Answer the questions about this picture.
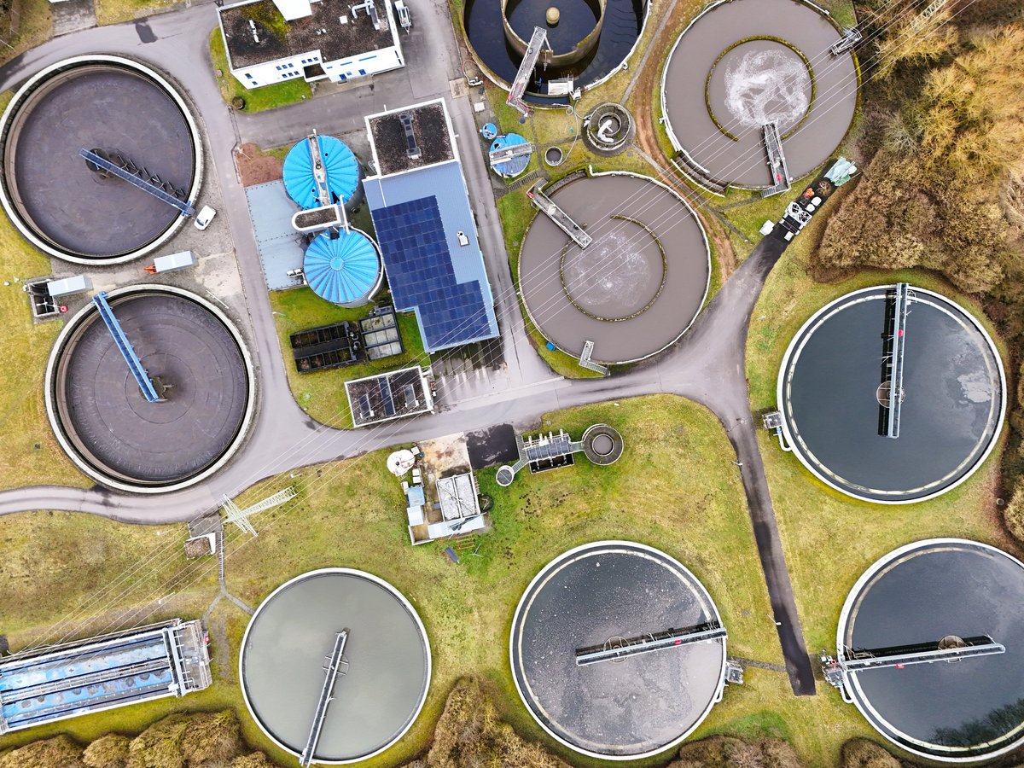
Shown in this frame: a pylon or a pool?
pylon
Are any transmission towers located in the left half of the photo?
Yes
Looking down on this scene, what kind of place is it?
industrial area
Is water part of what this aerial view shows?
Yes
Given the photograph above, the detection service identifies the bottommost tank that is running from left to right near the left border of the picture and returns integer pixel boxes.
[0,618,221,738]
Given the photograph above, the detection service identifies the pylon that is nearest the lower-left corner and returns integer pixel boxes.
[221,481,303,538]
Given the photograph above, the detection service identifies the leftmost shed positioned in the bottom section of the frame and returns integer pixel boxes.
[185,530,220,559]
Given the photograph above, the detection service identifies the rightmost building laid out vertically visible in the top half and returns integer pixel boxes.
[362,98,500,354]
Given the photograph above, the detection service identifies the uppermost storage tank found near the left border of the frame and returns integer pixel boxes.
[0,56,205,264]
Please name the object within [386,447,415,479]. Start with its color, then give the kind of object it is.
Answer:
white storage tank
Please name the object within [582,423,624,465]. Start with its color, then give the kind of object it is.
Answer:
gray storage tank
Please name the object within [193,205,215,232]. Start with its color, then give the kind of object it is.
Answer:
white vehicle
